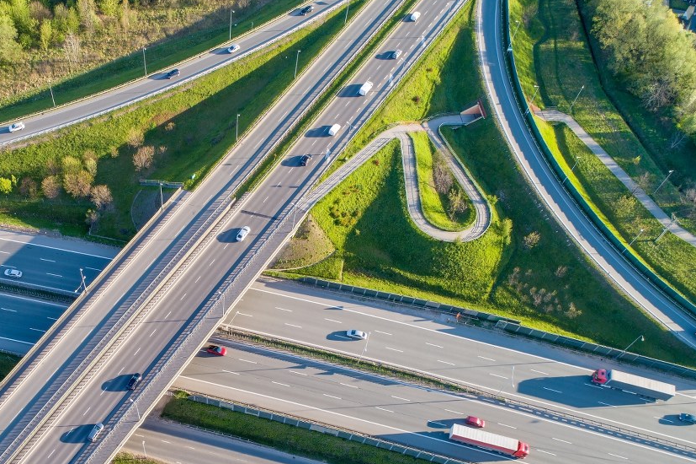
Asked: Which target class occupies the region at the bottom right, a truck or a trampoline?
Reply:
truck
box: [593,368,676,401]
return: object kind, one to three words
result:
truck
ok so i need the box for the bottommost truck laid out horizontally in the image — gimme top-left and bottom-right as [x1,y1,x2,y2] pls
[450,424,529,459]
